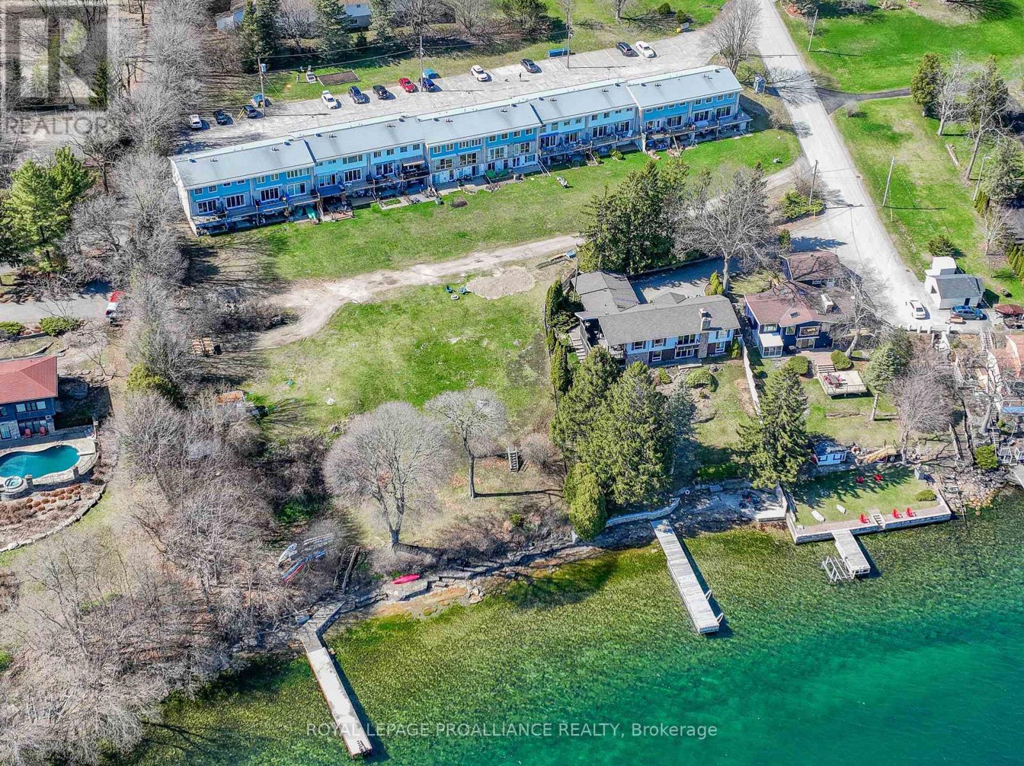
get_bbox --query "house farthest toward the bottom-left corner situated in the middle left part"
[0,355,59,436]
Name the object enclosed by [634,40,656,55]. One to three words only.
car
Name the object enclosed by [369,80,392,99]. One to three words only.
vehicle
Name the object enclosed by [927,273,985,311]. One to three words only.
shed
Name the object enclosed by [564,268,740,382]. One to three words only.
house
